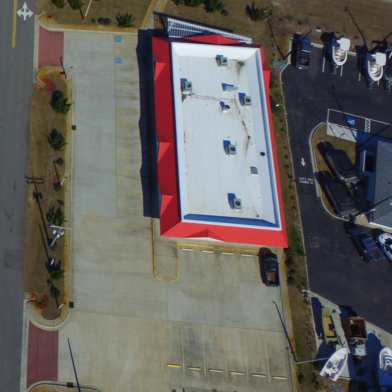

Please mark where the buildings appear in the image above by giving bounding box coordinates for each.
[151,32,288,247]
[358,140,392,237]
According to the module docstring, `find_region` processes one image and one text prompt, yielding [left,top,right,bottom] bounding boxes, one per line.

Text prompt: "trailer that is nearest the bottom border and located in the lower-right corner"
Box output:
[344,315,380,347]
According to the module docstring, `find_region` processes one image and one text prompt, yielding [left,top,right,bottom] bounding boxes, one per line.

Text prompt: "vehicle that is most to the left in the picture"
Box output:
[262,251,281,289]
